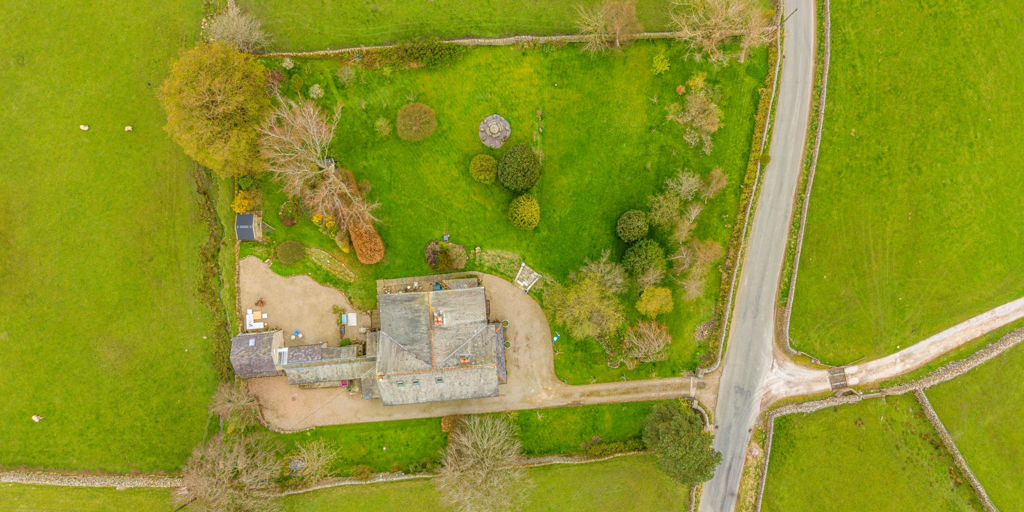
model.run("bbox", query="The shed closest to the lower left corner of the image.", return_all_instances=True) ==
[230,331,281,376]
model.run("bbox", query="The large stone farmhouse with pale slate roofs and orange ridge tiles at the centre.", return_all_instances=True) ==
[376,278,508,406]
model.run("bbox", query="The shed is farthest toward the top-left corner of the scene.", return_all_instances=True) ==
[234,214,259,240]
